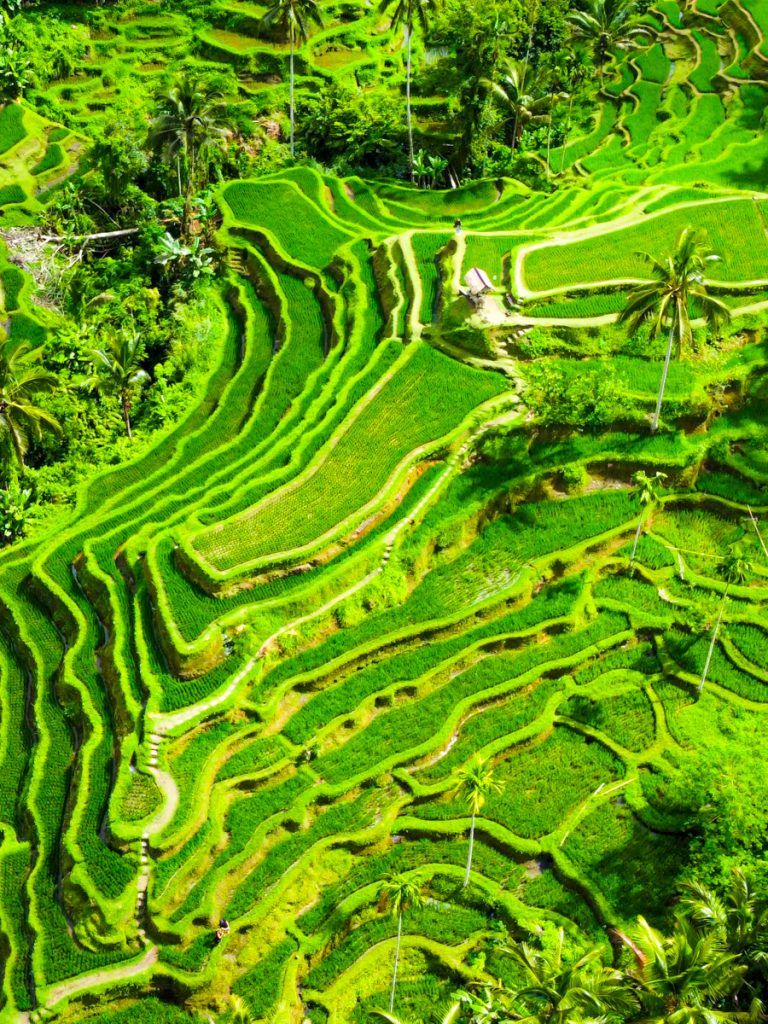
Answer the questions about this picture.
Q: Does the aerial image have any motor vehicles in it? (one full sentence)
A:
No, I find no motor vehicle anywhere in the image.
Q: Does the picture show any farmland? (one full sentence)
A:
Yes, there is farmland in the image.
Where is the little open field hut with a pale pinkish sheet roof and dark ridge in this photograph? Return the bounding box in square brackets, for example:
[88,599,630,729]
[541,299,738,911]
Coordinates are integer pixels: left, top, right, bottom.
[462,268,498,308]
